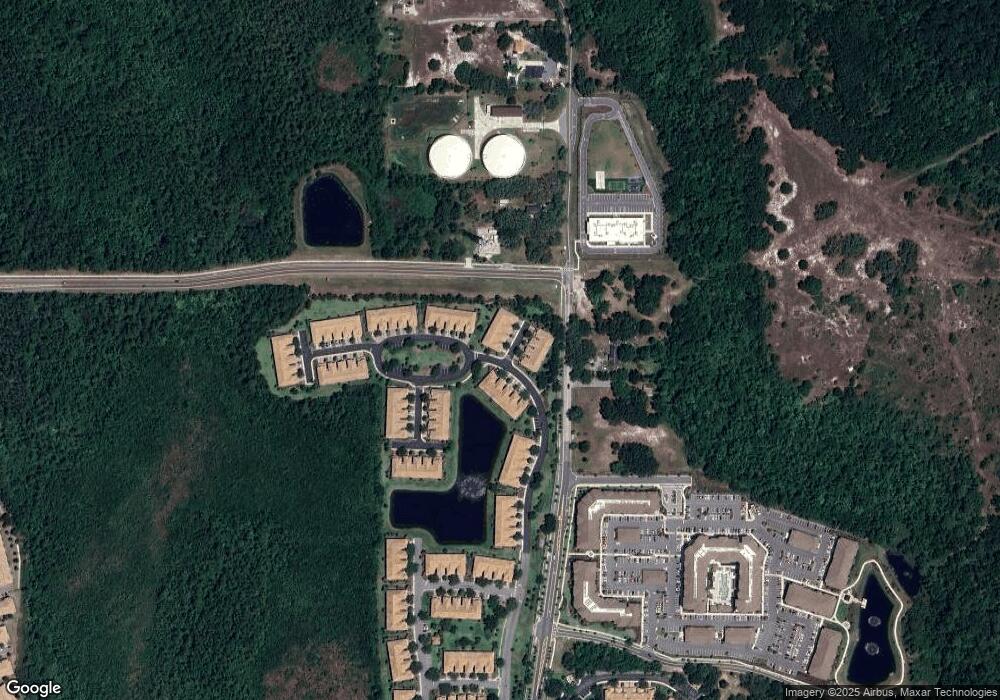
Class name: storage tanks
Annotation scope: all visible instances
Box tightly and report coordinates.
[429,136,473,179]
[482,136,525,179]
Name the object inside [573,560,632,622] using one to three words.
building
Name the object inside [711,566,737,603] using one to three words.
swimming pool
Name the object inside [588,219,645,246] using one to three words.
building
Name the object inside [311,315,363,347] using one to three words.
house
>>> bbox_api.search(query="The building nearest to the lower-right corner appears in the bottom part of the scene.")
[808,628,843,679]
